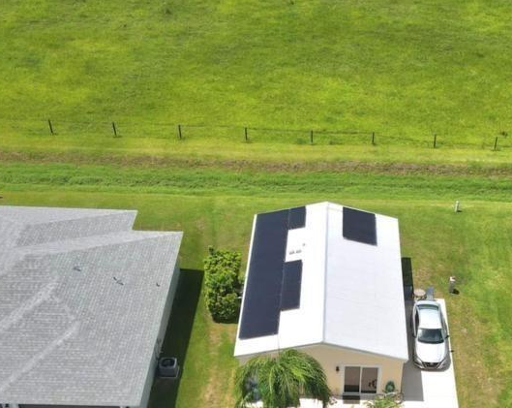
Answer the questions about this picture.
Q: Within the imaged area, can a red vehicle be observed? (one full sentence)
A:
No, I can't see a single red vehicle in this photo.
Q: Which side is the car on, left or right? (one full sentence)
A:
The car appears in the right half of the scene.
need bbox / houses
[0,207,184,408]
[232,201,411,400]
